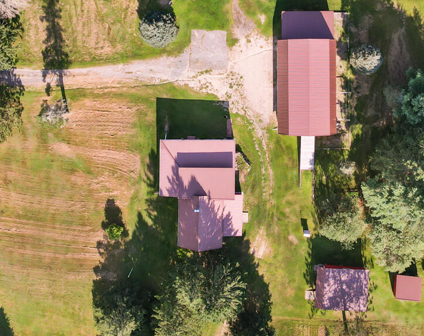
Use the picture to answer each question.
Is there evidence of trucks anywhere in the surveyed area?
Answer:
No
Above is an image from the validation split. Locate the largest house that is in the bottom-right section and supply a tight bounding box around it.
[305,261,369,311]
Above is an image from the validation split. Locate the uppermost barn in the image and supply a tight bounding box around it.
[277,11,337,137]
